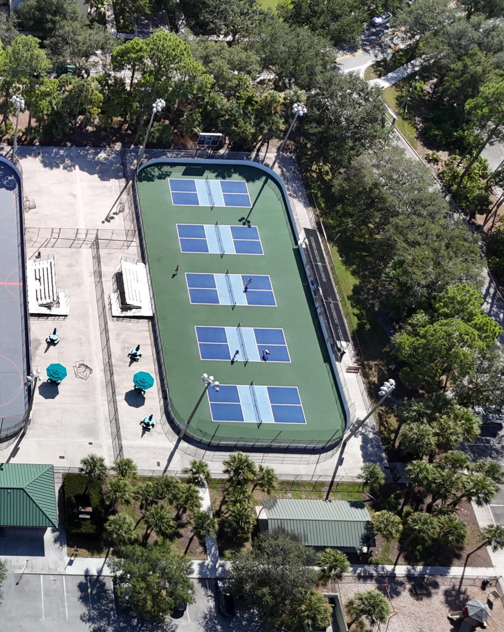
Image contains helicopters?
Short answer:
No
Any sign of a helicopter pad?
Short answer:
No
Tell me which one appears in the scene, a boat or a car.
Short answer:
car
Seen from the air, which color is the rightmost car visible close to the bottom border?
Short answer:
black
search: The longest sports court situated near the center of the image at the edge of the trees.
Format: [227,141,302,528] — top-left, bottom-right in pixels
[135,156,345,449]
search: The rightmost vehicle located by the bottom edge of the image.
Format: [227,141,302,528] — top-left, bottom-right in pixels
[215,578,240,616]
